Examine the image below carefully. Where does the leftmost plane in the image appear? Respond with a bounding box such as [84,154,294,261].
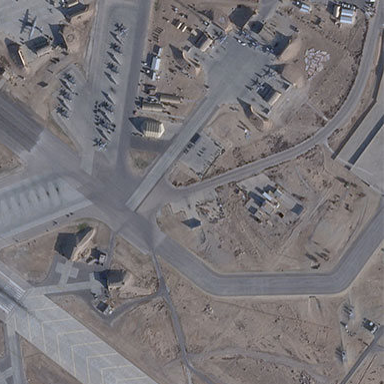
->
[27,16,44,38]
